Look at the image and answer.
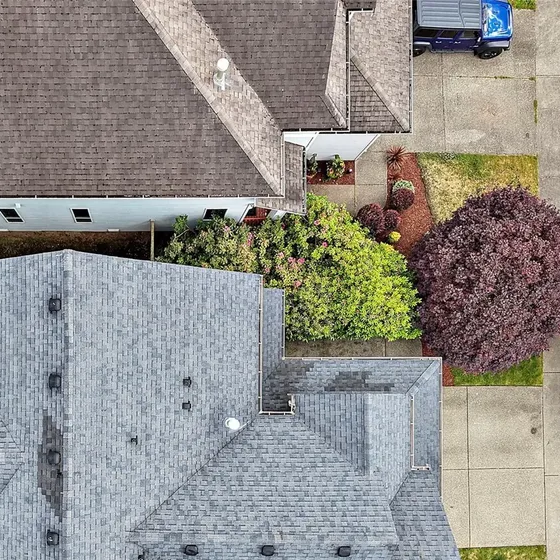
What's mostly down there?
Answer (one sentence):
For the most part, this view shows buildings.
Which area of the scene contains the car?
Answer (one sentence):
You can find the car in the top right area of the picture.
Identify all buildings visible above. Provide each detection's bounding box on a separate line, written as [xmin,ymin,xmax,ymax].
[0,250,461,560]
[0,0,414,232]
